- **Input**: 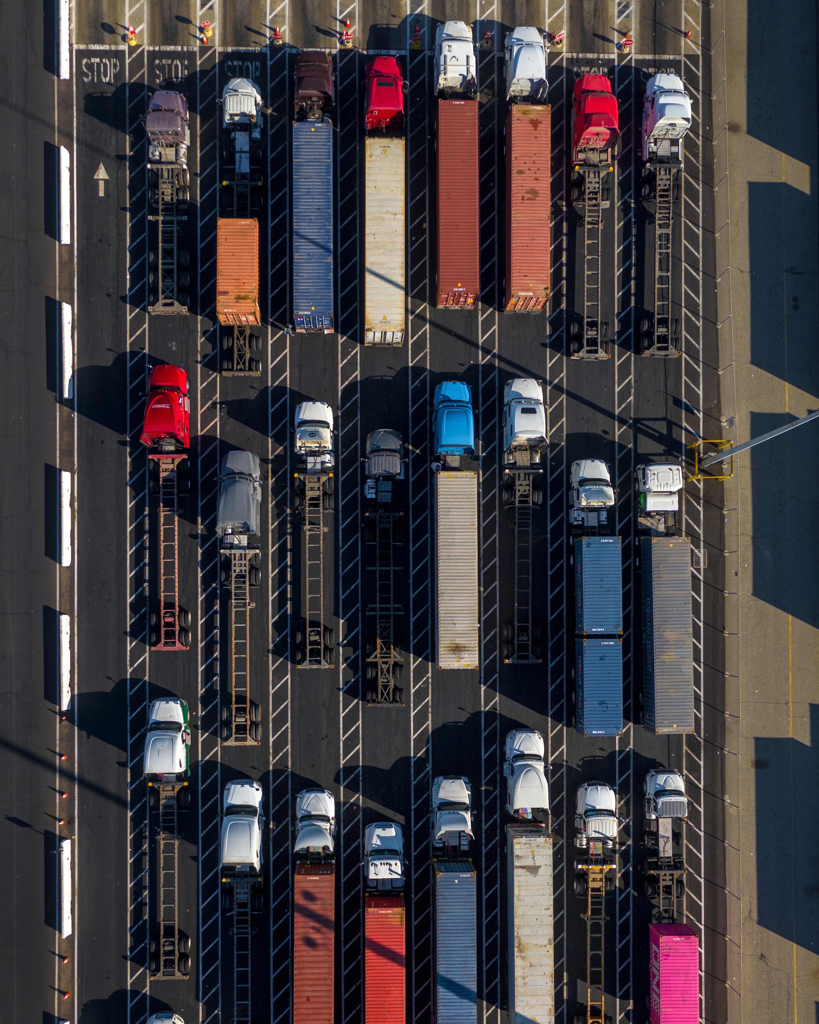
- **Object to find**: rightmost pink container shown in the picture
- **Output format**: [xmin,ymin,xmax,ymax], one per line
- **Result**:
[648,923,698,1024]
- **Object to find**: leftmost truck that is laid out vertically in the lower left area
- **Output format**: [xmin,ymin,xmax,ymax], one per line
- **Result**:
[141,695,190,821]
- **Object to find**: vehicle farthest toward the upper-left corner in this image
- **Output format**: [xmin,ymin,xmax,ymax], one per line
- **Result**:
[141,91,190,213]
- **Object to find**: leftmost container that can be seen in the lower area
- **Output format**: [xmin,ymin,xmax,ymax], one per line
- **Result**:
[295,864,335,1024]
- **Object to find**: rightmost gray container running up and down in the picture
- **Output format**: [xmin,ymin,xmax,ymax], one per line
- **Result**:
[641,537,696,735]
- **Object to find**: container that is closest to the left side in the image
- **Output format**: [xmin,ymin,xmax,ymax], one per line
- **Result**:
[218,218,262,326]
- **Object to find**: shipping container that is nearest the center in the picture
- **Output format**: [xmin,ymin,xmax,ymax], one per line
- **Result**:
[435,471,477,669]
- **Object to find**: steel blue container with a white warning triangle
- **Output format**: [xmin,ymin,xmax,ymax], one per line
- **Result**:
[434,862,476,1024]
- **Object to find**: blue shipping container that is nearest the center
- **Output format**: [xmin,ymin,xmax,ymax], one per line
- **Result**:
[574,536,621,634]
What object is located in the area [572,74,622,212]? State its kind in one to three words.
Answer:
truck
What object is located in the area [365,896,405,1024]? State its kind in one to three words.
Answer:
shipping container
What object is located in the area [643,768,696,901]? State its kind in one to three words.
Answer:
truck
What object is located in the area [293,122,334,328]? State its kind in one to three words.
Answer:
shipping container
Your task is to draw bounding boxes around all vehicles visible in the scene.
[289,400,338,516]
[574,779,624,907]
[141,364,190,500]
[217,777,265,918]
[145,1007,187,1024]
[569,457,619,574]
[430,380,479,514]
[503,727,552,861]
[217,79,265,229]
[634,459,686,566]
[214,449,263,592]
[361,820,409,897]
[290,51,338,133]
[503,25,551,147]
[141,695,190,821]
[141,91,190,213]
[430,772,478,893]
[432,19,480,144]
[361,55,409,137]
[643,768,696,901]
[502,377,550,513]
[291,786,339,862]
[572,74,622,212]
[361,428,409,557]
[642,74,695,210]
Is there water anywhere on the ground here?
No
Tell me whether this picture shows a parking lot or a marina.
parking lot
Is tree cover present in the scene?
No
